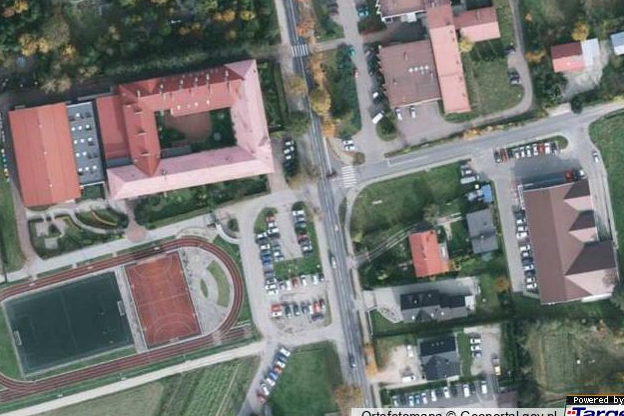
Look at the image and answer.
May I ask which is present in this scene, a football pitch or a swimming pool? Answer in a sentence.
Visible in the photo is a football pitch.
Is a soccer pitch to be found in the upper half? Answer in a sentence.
No, there's no soccer pitch to be seen in the upper half.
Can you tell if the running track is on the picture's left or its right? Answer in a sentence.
It is on the left.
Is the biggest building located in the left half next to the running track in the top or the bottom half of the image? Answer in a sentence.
It is in the top half that the biggest building located in the left half next to the running track appears.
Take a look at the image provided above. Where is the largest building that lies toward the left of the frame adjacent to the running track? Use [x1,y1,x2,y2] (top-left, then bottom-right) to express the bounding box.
[106,59,274,200]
